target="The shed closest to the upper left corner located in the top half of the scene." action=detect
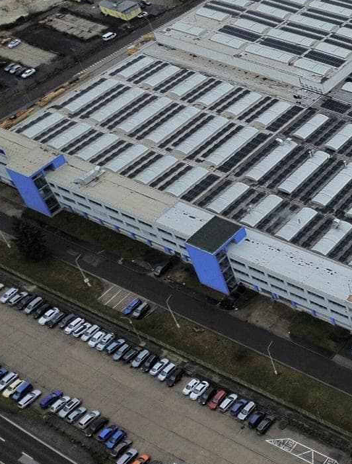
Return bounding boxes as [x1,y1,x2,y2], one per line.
[96,0,138,21]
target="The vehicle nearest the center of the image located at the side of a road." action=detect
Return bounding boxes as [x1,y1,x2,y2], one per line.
[153,259,170,276]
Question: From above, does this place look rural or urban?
urban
